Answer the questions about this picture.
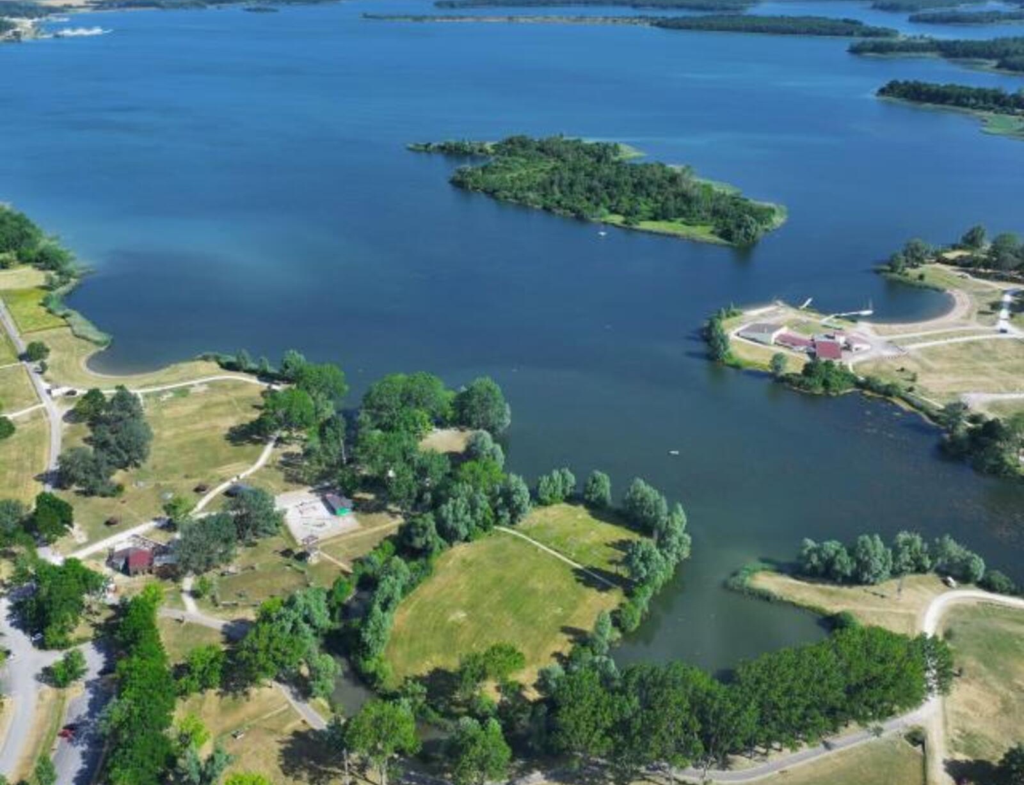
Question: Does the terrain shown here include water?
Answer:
Yes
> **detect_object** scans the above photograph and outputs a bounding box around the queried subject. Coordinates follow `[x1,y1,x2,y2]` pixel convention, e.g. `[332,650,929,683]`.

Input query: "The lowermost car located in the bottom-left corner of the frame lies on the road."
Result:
[50,725,78,742]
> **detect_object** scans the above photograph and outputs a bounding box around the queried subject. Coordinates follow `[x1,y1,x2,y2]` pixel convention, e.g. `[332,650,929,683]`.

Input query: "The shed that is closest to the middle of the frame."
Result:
[328,487,352,519]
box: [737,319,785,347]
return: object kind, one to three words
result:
building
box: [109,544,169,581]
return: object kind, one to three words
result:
building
